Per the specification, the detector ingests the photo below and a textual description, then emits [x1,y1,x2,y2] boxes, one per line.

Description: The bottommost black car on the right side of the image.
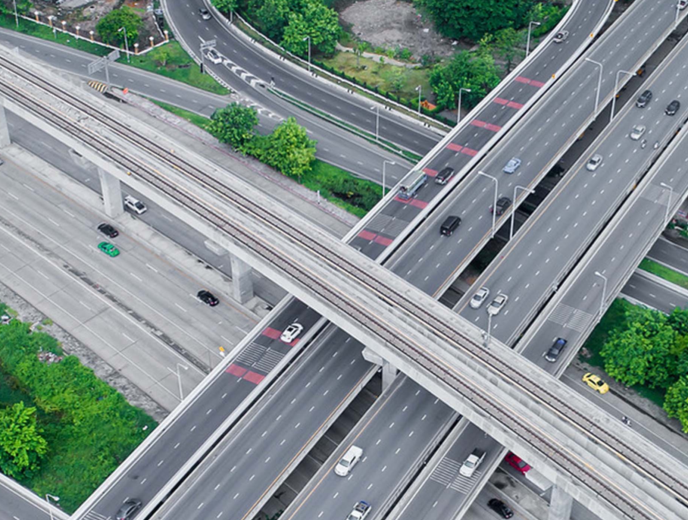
[485,497,517,520]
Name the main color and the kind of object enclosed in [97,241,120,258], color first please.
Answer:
green car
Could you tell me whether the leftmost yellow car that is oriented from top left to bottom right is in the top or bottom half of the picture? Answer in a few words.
bottom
